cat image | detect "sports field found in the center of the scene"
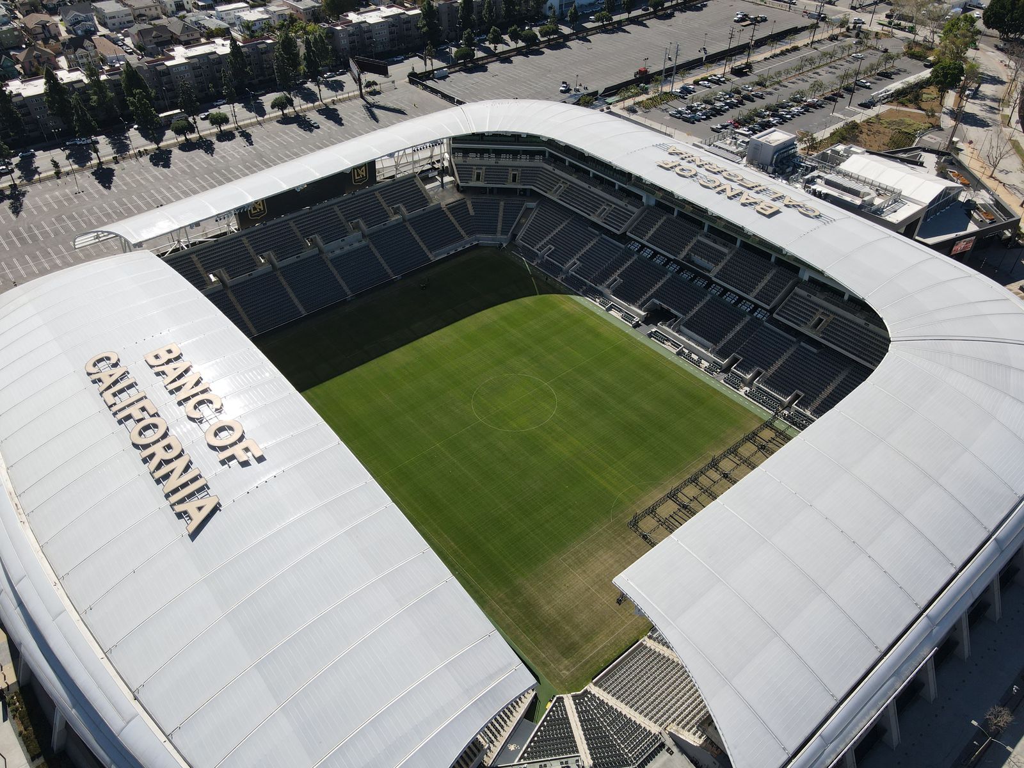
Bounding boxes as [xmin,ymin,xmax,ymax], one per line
[246,244,795,687]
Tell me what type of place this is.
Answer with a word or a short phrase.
sports ground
